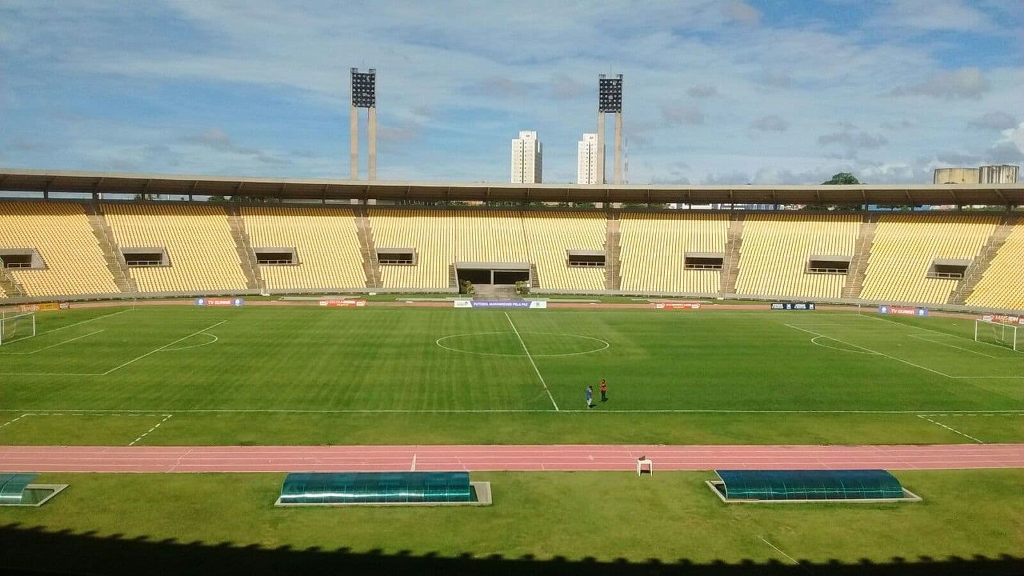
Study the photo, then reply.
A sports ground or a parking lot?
sports ground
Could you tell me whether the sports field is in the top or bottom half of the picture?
bottom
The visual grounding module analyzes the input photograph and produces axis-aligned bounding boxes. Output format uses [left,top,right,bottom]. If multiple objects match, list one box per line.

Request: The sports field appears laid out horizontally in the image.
[0,306,1024,560]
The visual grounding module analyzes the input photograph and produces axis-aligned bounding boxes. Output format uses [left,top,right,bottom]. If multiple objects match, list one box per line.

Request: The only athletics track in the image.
[0,301,1024,473]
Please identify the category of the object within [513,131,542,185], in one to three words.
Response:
building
